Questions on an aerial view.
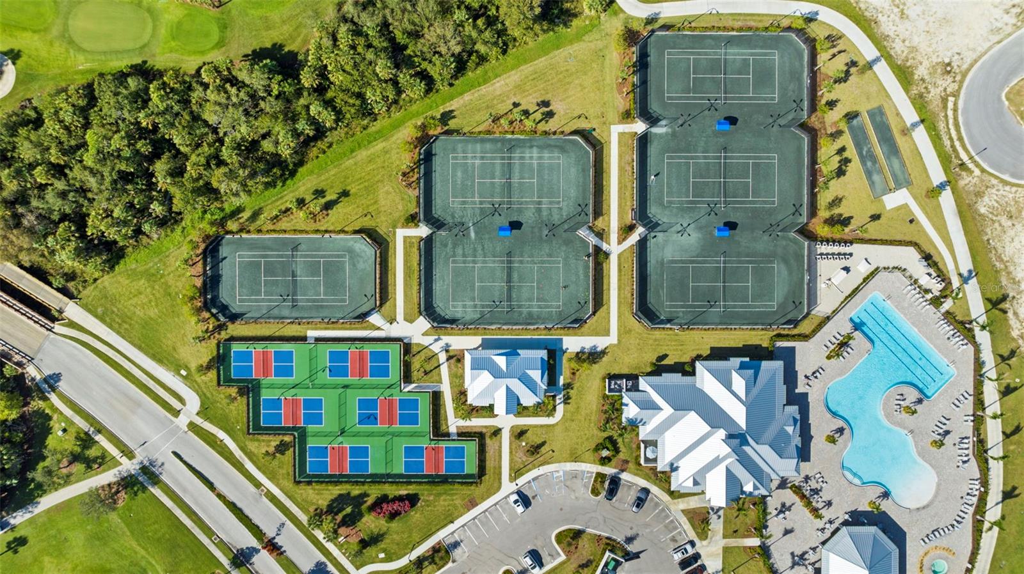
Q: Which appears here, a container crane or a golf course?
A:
golf course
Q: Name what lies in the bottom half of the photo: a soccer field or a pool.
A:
pool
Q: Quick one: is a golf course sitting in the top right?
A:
No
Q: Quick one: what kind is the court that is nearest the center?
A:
tennis court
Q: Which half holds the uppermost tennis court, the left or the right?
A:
right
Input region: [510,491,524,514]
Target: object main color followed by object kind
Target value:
white car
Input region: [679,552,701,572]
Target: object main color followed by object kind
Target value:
black car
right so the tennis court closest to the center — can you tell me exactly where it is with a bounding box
[421,231,591,326]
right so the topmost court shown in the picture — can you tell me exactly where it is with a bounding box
[639,34,806,127]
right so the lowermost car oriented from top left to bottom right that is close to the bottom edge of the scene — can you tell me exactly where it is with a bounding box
[522,551,541,573]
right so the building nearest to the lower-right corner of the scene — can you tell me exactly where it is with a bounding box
[819,525,898,574]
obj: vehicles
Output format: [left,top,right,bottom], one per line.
[632,489,648,511]
[510,491,524,514]
[522,551,541,573]
[679,552,701,572]
[605,477,620,501]
[686,563,708,574]
[671,541,693,561]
